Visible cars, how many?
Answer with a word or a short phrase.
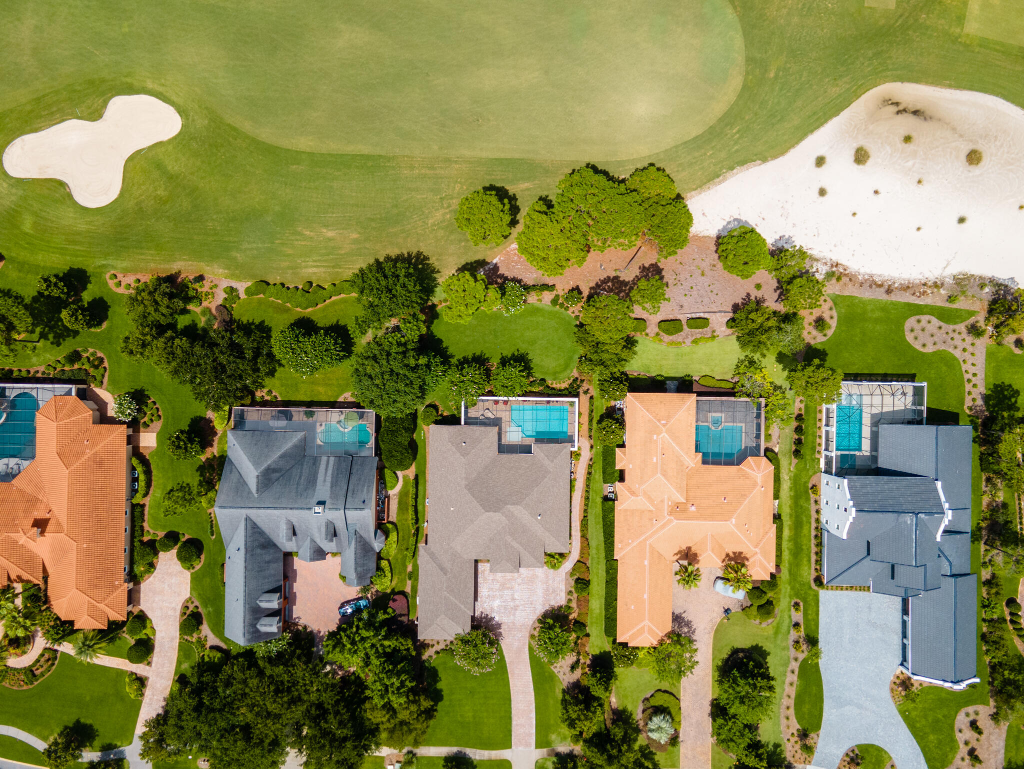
two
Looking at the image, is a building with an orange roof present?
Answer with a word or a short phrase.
Yes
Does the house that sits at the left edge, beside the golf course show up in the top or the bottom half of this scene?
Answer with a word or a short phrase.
bottom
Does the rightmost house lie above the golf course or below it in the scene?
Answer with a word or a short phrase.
below it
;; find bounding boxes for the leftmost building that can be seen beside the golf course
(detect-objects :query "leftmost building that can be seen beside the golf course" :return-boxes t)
[0,385,138,630]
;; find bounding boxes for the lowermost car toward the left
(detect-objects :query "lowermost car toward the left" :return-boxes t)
[337,597,371,617]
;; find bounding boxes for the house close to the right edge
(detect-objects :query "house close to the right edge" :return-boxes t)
[818,424,981,690]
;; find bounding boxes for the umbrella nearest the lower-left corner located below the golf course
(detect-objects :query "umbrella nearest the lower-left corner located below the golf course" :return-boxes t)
[269,411,288,429]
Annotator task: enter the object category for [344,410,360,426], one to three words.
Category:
umbrella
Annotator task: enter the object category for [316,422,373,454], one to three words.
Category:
swimming pool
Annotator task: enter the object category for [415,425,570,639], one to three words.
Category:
house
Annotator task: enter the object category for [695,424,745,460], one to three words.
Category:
swimming pool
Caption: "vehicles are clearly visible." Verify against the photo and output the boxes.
[337,597,371,617]
[711,577,746,599]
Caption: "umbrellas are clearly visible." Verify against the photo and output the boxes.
[344,410,360,426]
[269,411,288,429]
